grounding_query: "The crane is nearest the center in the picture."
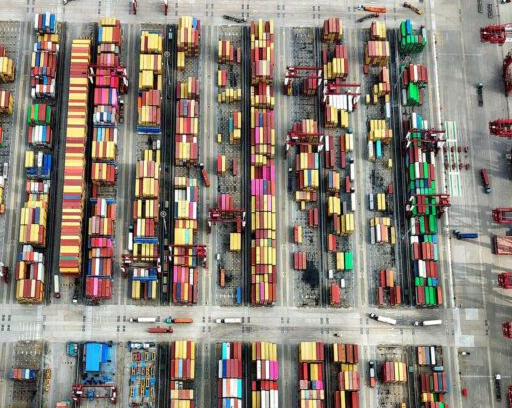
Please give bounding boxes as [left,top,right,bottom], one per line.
[206,213,247,239]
